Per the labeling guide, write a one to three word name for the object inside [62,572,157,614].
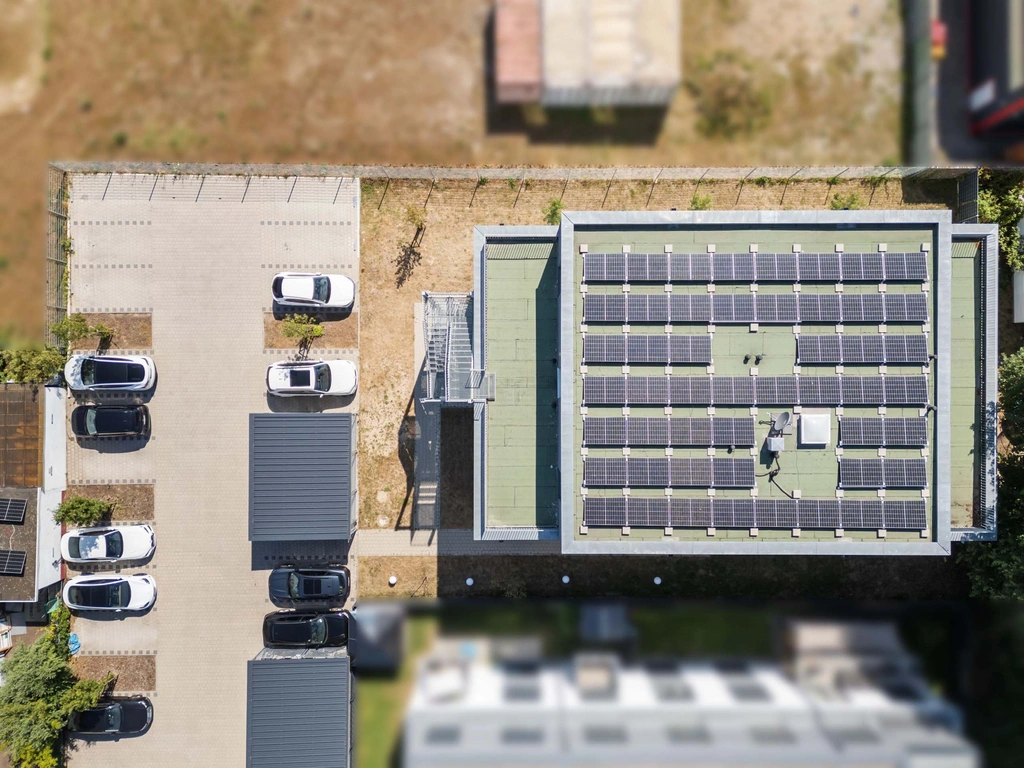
car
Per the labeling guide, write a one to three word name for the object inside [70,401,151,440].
car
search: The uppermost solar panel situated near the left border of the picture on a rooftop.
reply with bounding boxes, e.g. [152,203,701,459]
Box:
[0,497,28,524]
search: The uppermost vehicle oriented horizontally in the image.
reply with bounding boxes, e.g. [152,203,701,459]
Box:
[273,270,355,309]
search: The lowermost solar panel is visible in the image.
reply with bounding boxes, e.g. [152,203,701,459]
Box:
[0,547,28,575]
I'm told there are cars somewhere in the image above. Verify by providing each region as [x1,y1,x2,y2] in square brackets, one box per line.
[70,401,151,440]
[273,270,355,309]
[265,357,358,399]
[63,351,157,394]
[66,696,155,739]
[270,566,352,608]
[262,609,350,648]
[62,572,157,614]
[60,523,155,565]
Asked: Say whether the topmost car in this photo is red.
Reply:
No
